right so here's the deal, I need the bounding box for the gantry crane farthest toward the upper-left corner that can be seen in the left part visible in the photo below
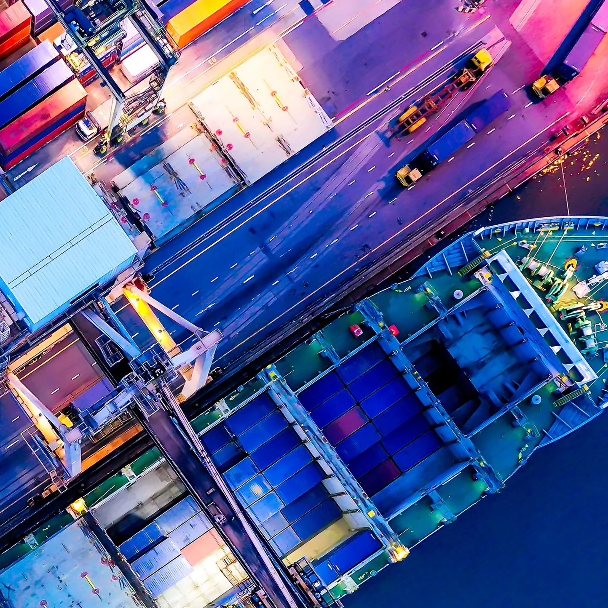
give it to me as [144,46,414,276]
[37,0,184,156]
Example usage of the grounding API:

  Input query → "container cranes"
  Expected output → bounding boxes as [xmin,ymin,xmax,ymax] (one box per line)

[0,155,349,608]
[37,0,184,156]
